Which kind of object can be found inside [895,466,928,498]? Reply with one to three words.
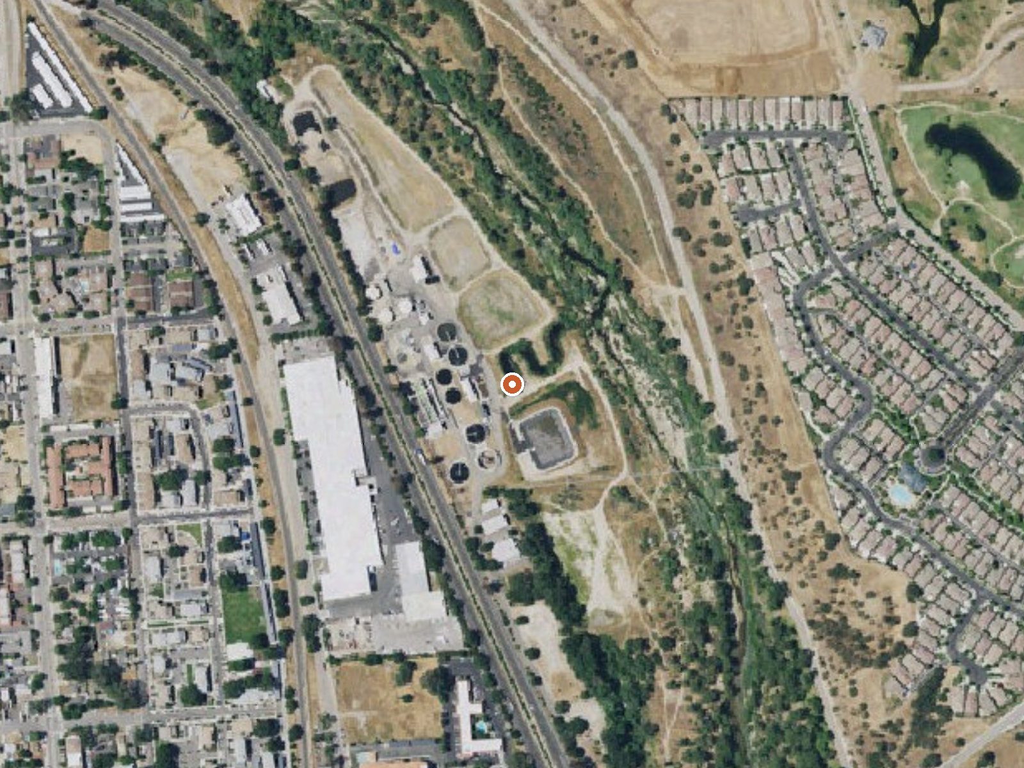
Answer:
building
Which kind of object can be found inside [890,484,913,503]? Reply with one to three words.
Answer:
swimming pool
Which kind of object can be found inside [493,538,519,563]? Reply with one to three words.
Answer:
shed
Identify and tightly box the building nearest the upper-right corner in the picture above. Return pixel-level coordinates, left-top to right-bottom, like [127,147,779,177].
[862,24,888,49]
